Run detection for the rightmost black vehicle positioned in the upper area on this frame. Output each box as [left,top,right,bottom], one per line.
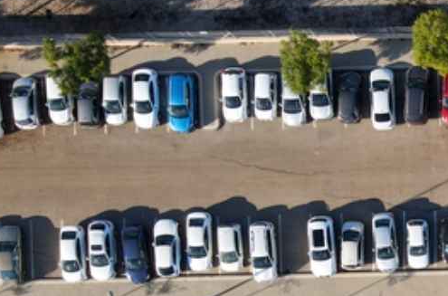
[403,67,429,124]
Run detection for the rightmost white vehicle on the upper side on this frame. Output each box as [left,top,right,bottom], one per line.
[368,69,395,129]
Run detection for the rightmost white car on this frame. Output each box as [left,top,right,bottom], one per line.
[404,220,430,268]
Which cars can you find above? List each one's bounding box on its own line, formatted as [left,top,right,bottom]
[440,68,448,123]
[220,67,248,122]
[308,73,334,119]
[11,77,41,129]
[58,225,87,281]
[368,69,395,129]
[166,71,195,133]
[75,81,102,124]
[279,72,307,125]
[404,220,430,268]
[45,73,74,124]
[216,224,243,273]
[185,211,213,271]
[252,73,278,121]
[335,70,362,122]
[122,225,151,283]
[373,212,399,272]
[87,220,117,280]
[249,222,278,282]
[132,68,160,128]
[403,67,429,124]
[99,75,130,125]
[307,215,335,277]
[151,219,182,276]
[339,221,364,269]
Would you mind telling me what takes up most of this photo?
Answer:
paved ground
